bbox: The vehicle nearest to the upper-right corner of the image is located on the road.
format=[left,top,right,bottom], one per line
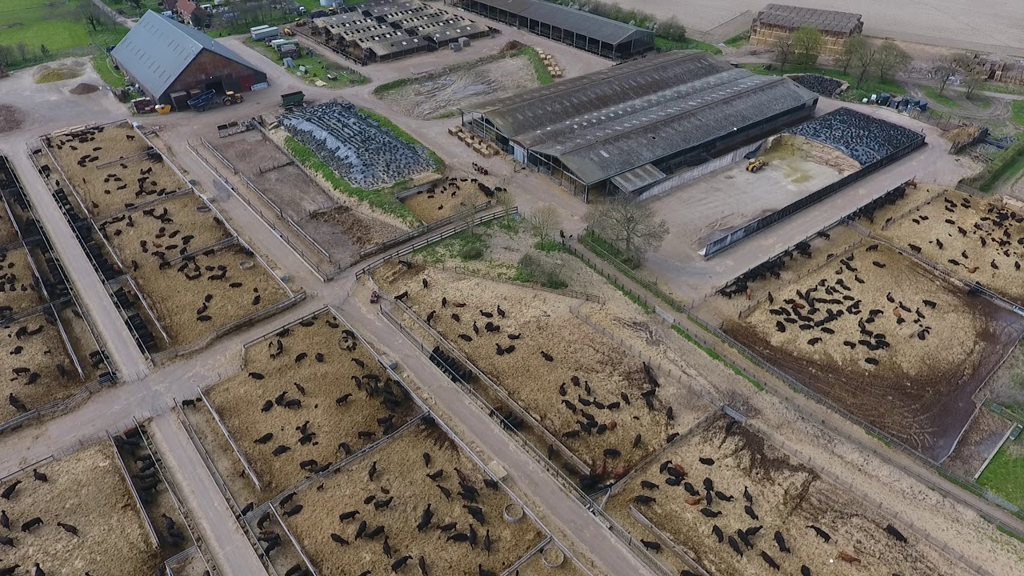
[743,156,773,175]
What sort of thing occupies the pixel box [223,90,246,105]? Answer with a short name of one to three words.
work vehicle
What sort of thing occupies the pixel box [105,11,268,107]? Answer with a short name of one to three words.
barn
